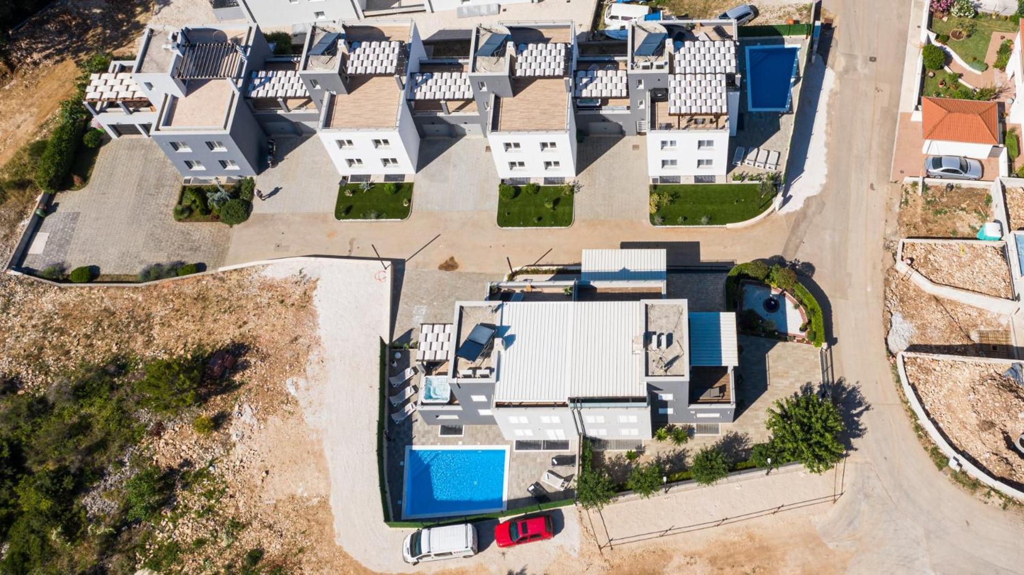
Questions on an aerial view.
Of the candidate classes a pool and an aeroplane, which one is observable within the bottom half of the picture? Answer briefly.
pool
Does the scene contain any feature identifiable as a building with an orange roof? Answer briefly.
Yes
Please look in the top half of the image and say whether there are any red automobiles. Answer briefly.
No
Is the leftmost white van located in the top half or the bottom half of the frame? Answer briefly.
bottom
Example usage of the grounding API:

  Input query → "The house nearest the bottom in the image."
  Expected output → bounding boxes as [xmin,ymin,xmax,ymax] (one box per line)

[418,276,735,453]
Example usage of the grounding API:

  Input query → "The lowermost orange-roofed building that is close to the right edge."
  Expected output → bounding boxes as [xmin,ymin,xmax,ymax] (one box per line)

[916,98,1008,160]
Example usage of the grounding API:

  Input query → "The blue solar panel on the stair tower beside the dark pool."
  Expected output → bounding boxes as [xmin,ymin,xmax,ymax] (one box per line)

[631,28,668,63]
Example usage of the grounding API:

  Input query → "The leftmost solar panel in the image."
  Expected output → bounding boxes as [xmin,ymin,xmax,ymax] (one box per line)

[307,27,344,63]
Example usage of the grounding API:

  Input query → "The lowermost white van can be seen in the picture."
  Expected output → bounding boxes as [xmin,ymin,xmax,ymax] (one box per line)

[404,519,481,561]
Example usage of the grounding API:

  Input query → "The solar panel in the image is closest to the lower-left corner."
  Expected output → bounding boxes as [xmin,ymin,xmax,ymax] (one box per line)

[450,312,497,361]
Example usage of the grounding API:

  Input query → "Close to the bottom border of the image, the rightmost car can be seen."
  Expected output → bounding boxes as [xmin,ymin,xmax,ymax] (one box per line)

[493,511,557,547]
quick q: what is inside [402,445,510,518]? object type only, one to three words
swimming pool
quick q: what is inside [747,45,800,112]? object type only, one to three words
swimming pool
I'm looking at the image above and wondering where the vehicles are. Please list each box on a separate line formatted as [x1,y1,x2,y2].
[599,3,658,27]
[404,519,481,561]
[922,153,985,181]
[493,511,557,547]
[715,1,766,28]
